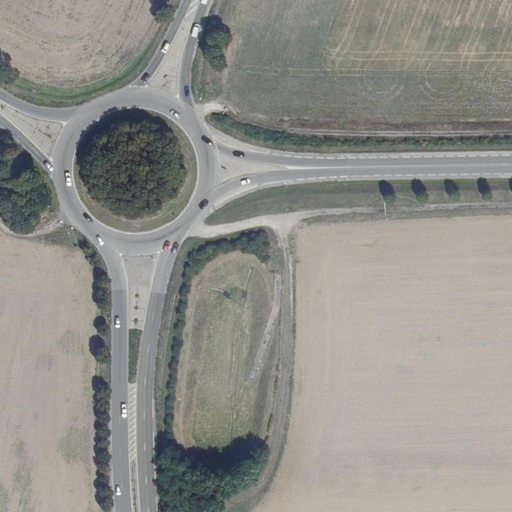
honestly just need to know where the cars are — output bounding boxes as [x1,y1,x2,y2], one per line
[240,178,250,184]
[122,404,127,416]
[66,173,72,186]
[172,242,178,254]
[163,240,169,251]
[169,108,180,118]
[184,86,189,96]
[232,151,244,156]
[200,135,212,144]
[199,198,208,209]
[83,212,94,222]
[96,236,104,246]
[114,317,120,327]
[116,486,121,496]
[142,72,149,82]
[162,41,170,52]
[45,161,54,171]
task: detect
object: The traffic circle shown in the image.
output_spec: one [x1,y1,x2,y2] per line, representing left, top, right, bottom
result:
[50,84,221,256]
